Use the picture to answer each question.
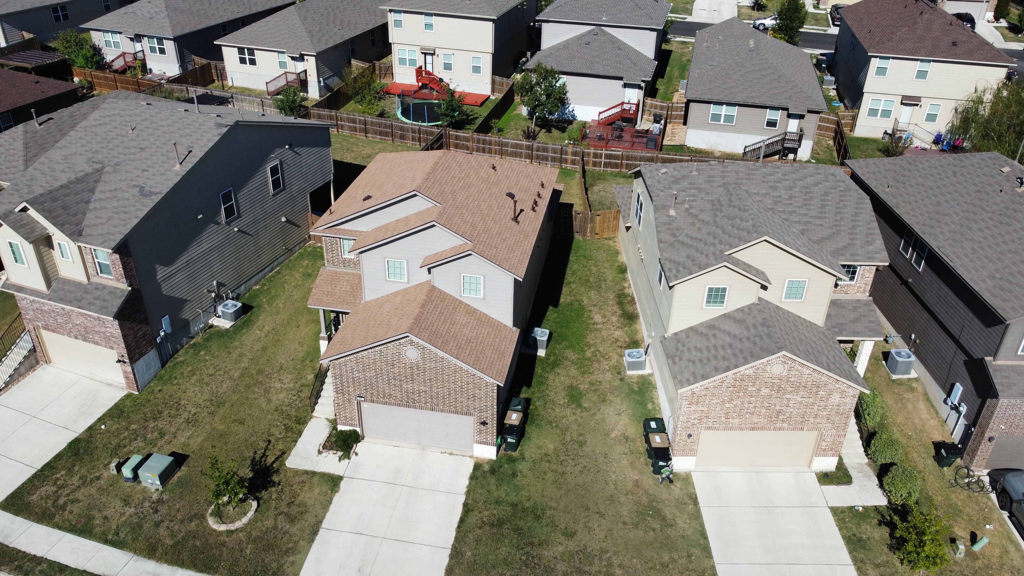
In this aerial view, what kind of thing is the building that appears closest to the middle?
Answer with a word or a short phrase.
residential house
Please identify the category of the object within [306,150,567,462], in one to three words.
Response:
house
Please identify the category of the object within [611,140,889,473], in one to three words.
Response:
house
